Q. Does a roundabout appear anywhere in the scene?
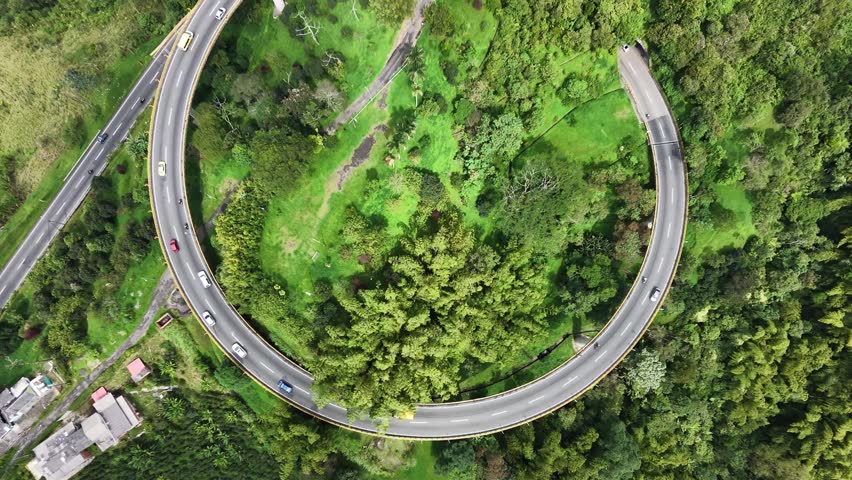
No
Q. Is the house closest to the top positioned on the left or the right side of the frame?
left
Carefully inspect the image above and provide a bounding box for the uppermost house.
[126,356,153,383]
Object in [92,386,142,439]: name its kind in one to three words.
house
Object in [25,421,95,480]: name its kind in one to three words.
house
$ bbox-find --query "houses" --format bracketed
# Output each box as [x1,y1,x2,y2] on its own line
[126,356,153,383]
[92,386,142,439]
[25,421,95,480]
[3,374,56,423]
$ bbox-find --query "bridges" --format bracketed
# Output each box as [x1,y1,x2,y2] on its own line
[142,0,692,444]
